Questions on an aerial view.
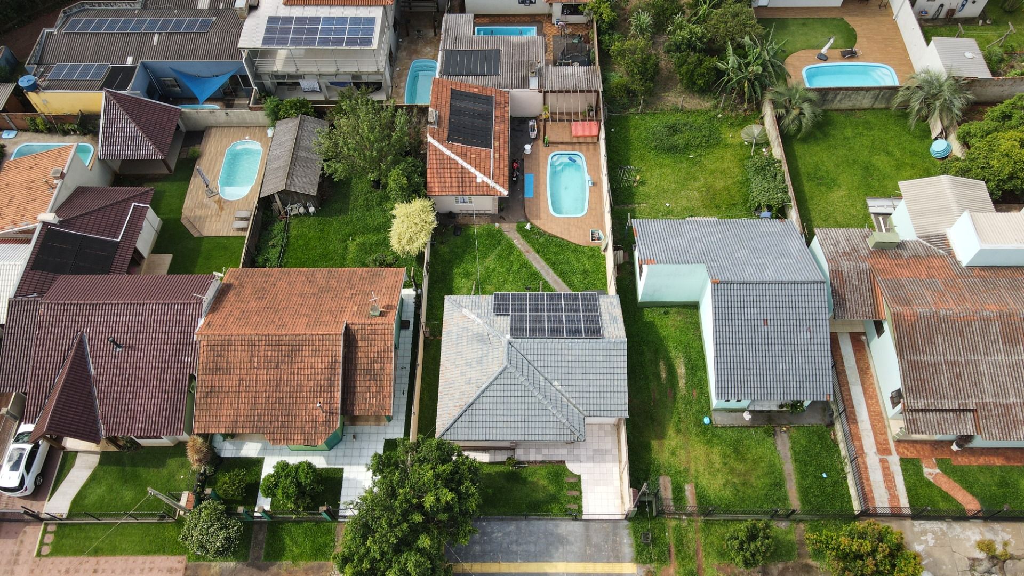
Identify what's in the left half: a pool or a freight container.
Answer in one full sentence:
There is a pool in the left half.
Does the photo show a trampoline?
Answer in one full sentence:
Yes, looking at the shot, I can spot a trampoline.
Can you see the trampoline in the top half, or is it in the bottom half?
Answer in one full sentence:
Seen from above, the trampoline lies in the top half of the view.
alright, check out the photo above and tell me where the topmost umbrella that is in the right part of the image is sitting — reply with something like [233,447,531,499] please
[816,38,833,62]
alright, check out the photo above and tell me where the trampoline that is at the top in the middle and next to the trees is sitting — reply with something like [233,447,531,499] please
[558,32,594,66]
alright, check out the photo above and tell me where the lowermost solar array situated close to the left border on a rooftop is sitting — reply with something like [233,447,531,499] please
[47,64,109,79]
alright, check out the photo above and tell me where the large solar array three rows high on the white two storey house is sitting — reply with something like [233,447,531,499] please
[262,17,375,47]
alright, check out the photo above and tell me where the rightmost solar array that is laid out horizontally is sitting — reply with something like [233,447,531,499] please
[494,292,601,338]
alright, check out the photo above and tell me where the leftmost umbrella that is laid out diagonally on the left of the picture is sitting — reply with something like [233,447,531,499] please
[197,168,218,197]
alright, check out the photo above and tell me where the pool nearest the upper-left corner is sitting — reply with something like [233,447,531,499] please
[10,143,94,163]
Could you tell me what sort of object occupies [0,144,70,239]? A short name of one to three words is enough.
house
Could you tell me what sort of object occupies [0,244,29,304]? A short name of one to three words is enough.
shed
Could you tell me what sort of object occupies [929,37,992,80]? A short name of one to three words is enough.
shed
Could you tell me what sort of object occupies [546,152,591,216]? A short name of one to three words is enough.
swimming pool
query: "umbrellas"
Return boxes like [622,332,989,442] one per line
[197,168,218,197]
[816,38,833,62]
